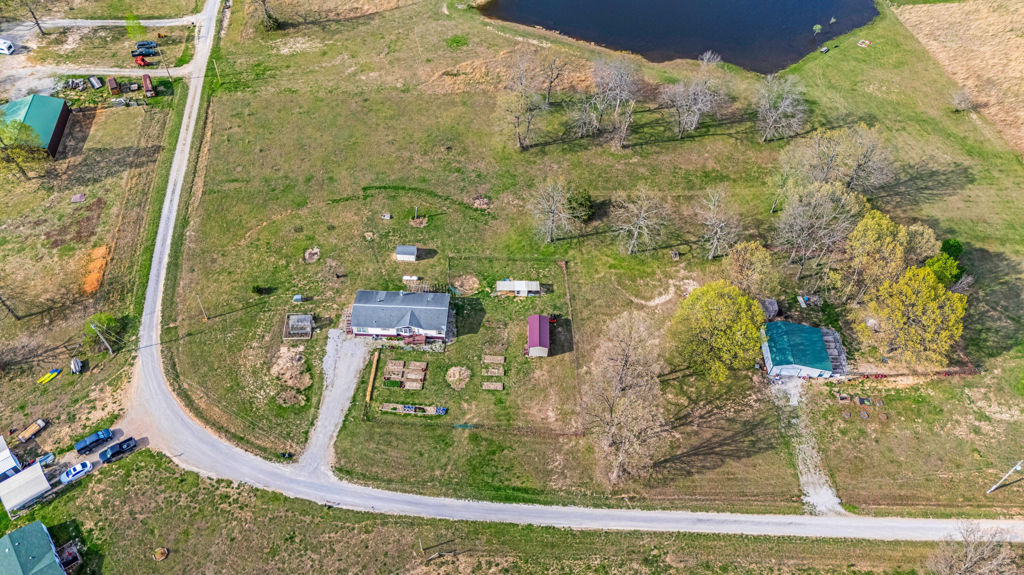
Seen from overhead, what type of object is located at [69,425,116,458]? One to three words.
truck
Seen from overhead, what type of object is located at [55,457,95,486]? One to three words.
car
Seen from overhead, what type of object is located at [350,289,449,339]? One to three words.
house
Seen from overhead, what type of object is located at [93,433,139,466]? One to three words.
truck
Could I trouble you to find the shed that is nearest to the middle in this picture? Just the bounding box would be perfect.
[497,281,540,296]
